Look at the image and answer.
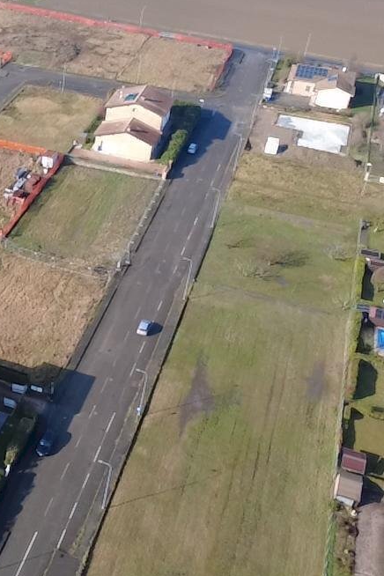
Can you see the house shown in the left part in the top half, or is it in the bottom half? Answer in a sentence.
You can find the house shown in the left part in the top half.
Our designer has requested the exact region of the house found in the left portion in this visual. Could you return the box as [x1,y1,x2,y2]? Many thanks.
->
[92,85,174,159]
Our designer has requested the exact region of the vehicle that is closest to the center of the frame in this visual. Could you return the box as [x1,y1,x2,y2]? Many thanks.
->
[136,317,152,334]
